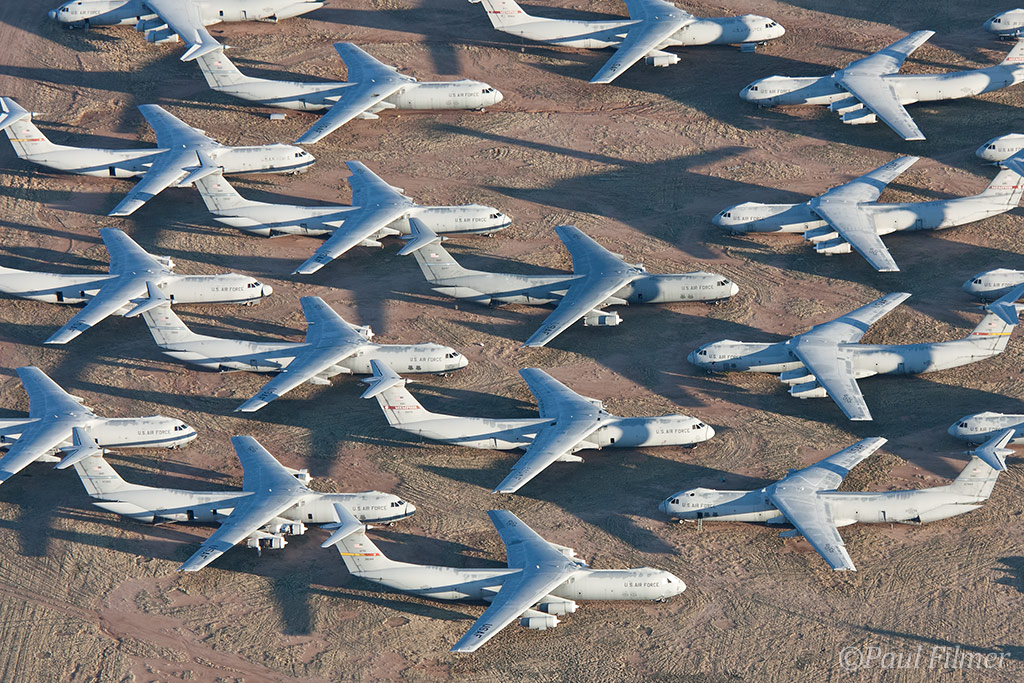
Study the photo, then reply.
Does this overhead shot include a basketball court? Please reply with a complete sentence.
No, the frame has no basketball court in it.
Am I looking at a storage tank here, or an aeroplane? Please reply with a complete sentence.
It is an aeroplane that can be seen here.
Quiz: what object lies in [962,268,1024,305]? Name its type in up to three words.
airplane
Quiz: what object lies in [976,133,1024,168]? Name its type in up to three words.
airplane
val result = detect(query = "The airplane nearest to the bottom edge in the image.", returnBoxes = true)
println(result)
[320,504,688,652]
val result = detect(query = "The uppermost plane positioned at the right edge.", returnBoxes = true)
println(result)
[984,6,1024,40]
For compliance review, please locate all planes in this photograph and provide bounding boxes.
[359,360,715,495]
[0,229,272,346]
[688,287,1024,422]
[0,367,197,486]
[0,96,316,217]
[179,150,513,276]
[56,428,416,572]
[962,268,1024,305]
[182,29,503,146]
[660,430,1019,572]
[740,32,1024,141]
[712,151,1024,273]
[976,133,1024,168]
[948,412,1024,450]
[320,504,688,652]
[49,0,330,55]
[397,218,739,349]
[470,0,785,85]
[984,6,1024,40]
[124,281,469,413]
